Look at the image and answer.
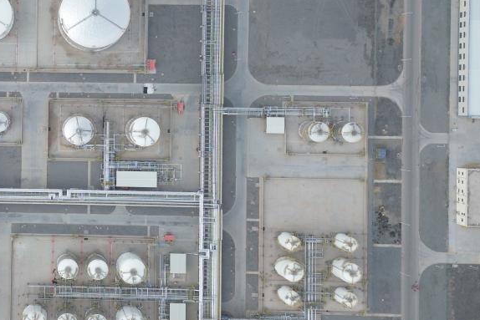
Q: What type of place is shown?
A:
industrial area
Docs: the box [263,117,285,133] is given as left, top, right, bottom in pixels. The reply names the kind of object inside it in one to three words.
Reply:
shed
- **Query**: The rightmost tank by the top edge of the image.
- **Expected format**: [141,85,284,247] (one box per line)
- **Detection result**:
[55,0,131,54]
